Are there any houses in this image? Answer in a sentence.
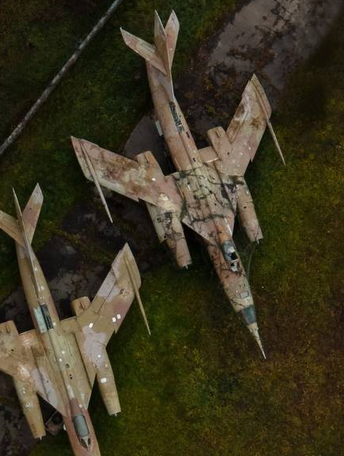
No, there isn't any house down there.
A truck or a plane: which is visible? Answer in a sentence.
The one in the frame is a plane.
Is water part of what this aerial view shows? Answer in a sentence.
No, water can't be seen anywhere here.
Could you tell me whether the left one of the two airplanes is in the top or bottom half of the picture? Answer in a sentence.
The left one of the two airplanes sits in the bottom half of the picture.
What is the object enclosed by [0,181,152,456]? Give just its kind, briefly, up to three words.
airplane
